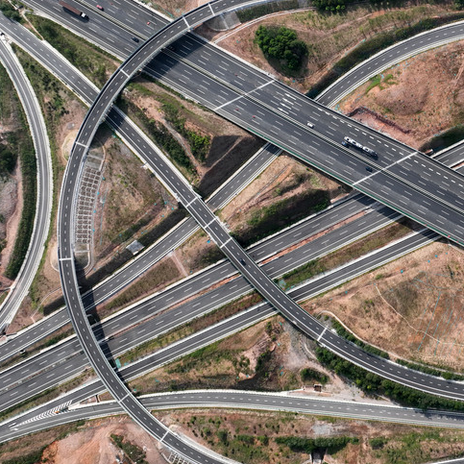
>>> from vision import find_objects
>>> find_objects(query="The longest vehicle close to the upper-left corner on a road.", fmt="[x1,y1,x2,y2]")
[61,2,88,19]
